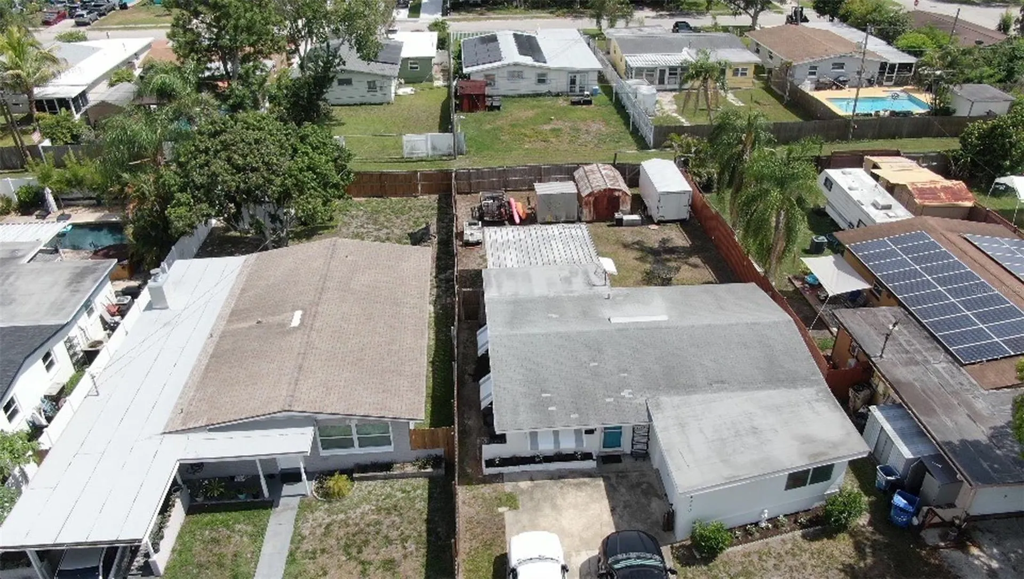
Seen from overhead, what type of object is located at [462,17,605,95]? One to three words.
house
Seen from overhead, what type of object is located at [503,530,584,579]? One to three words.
car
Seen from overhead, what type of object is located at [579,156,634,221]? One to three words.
shed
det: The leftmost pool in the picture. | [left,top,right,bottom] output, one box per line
[41,219,115,254]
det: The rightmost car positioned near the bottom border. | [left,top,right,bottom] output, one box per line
[598,528,675,579]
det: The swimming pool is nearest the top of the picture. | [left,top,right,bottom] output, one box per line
[823,91,933,115]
